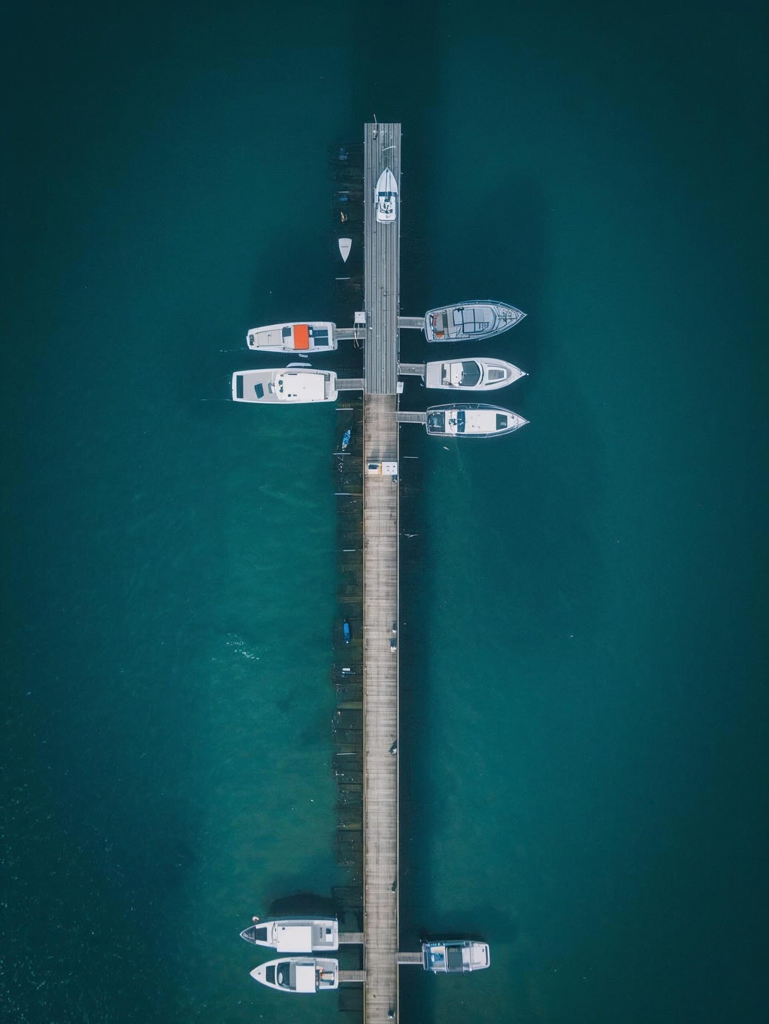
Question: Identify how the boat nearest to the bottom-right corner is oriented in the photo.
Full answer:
In this picture, the boat nearest to the bottom-right corner lies from side to side.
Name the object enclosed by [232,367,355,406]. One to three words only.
boat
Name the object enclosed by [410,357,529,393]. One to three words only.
boat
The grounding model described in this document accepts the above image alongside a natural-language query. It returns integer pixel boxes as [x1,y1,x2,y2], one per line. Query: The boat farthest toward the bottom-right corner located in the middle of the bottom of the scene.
[406,934,490,973]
